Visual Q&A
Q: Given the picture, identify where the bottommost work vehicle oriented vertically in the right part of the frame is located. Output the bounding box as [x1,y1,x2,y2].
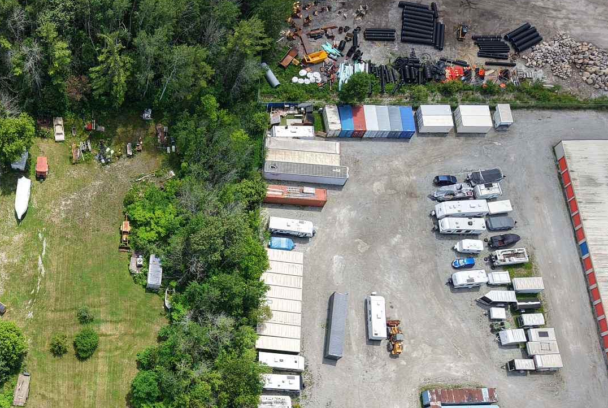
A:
[386,322,404,355]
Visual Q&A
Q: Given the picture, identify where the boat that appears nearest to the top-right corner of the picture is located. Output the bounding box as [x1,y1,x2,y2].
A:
[465,168,504,183]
